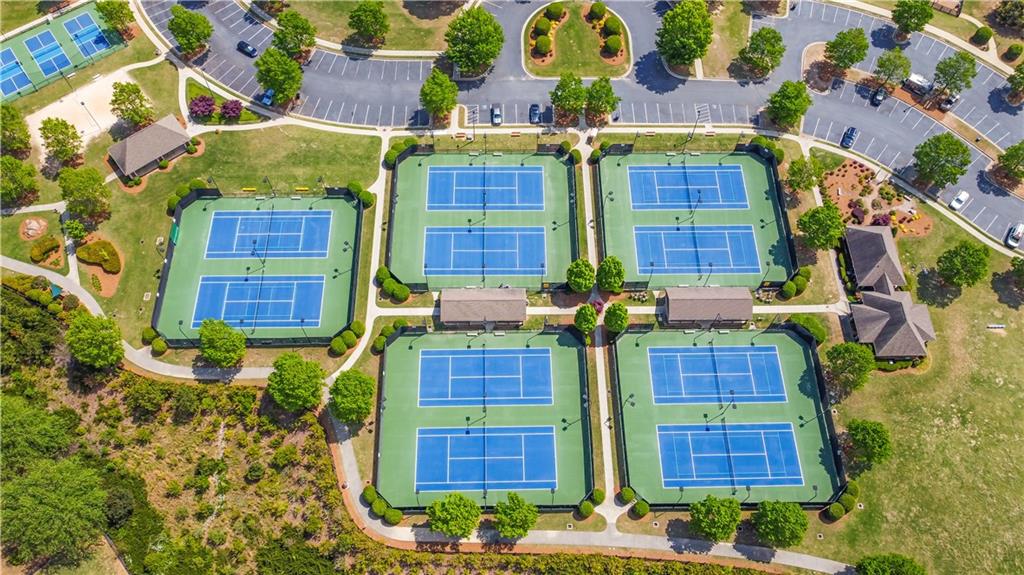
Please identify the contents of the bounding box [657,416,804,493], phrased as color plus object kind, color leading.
blue tennis court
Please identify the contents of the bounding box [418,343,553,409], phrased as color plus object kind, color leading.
blue tennis court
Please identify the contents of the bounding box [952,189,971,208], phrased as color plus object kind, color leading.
white car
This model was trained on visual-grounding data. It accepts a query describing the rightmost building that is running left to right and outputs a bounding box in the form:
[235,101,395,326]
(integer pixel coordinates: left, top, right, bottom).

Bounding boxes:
[663,287,754,327]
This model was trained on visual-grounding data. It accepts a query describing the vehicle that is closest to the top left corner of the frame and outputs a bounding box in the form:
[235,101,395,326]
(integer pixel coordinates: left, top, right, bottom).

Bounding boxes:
[237,40,257,55]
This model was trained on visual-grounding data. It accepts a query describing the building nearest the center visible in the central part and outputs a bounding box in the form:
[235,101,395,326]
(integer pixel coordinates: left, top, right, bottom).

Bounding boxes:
[441,288,527,328]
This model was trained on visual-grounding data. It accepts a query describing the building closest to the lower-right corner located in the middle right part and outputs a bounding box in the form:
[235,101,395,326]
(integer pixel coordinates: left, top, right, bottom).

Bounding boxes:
[843,226,936,365]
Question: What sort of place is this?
sports ground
